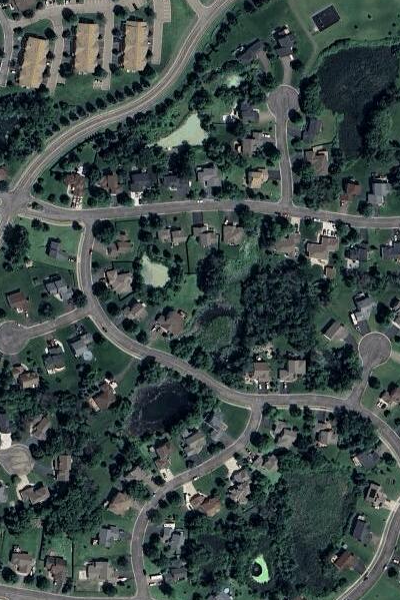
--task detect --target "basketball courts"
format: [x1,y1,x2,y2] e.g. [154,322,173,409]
[311,4,340,32]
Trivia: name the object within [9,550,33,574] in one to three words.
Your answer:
house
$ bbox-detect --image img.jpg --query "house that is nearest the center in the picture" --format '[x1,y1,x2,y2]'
[156,308,186,334]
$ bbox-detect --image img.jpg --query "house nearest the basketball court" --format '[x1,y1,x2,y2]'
[272,26,293,54]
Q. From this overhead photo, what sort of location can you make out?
residential area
